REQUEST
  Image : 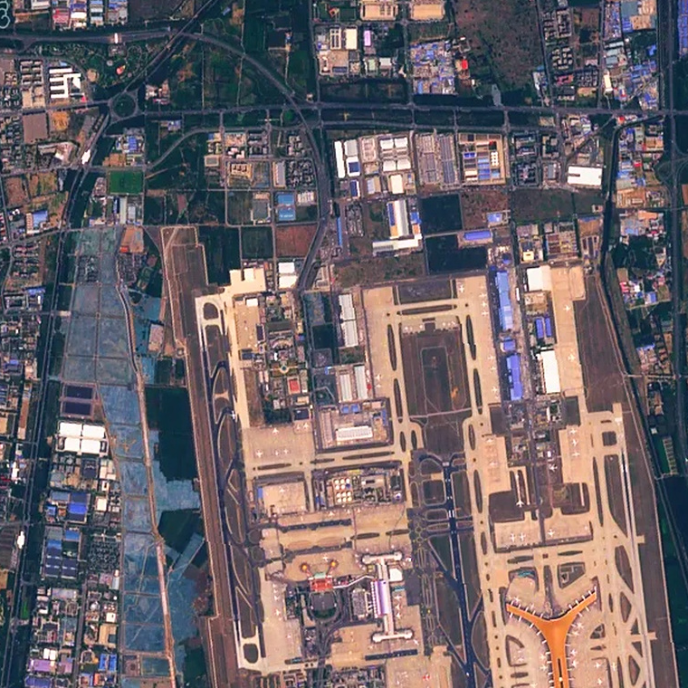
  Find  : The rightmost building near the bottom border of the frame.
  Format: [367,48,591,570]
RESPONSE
[507,586,597,688]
